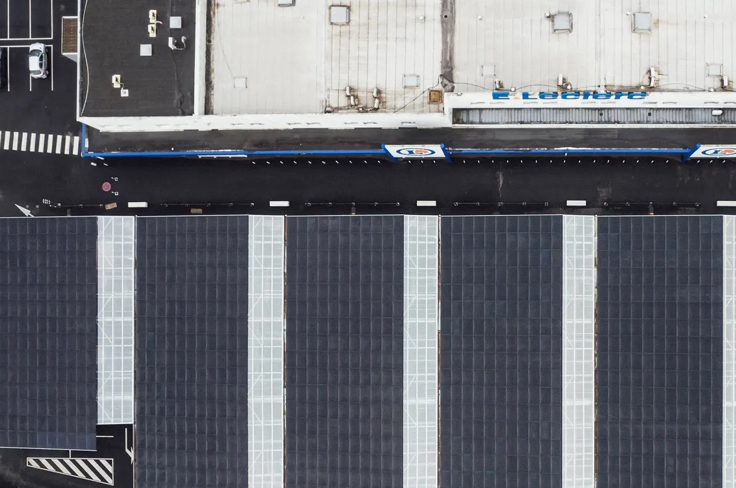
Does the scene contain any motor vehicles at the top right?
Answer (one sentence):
No, I see no motor vehicle at the top right.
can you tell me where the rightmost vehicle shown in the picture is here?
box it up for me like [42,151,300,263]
[27,43,51,79]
